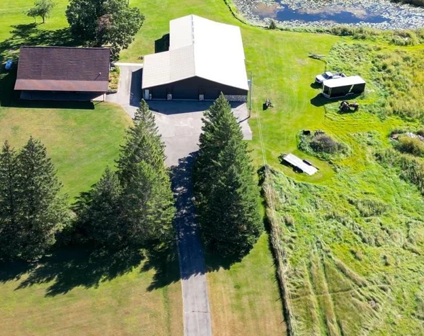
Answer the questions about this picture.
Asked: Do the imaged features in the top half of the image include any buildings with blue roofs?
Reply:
No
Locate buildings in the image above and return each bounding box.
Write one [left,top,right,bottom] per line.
[142,14,250,102]
[13,45,113,101]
